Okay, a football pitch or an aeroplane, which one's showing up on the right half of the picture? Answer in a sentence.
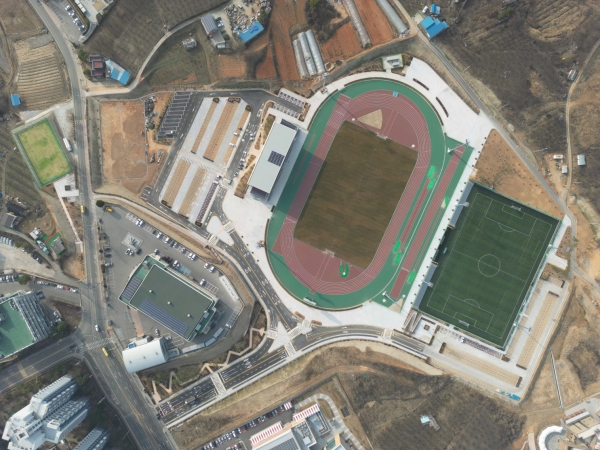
Looking on the right half of the picture, you will find a football pitch.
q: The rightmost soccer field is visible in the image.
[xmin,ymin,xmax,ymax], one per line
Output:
[419,183,561,349]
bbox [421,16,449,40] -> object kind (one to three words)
house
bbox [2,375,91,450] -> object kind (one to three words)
building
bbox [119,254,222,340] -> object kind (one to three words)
building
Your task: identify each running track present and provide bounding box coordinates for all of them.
[265,80,475,313]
